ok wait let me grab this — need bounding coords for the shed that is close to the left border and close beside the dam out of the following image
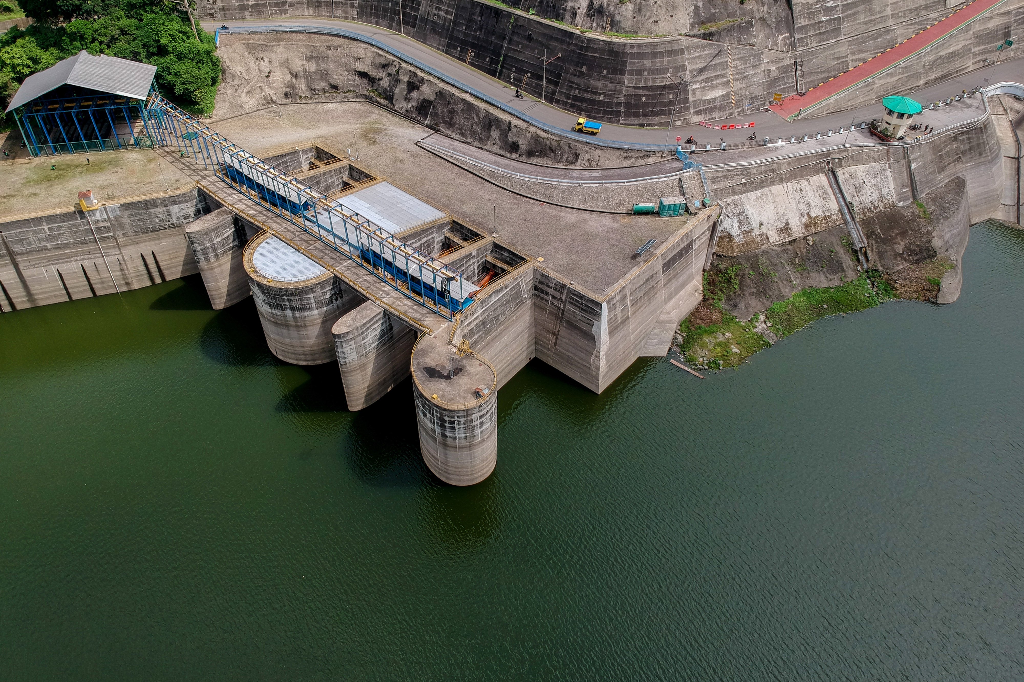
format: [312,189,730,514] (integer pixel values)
[4,49,165,153]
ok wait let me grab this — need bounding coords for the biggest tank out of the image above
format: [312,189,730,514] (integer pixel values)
[658,196,687,216]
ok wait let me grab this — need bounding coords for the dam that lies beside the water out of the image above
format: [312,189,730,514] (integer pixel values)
[185,144,719,485]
